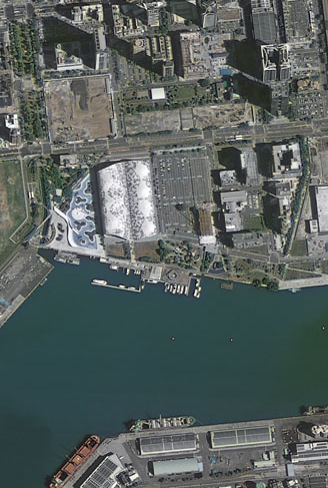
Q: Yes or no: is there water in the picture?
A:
Yes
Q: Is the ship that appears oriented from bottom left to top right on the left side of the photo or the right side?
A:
left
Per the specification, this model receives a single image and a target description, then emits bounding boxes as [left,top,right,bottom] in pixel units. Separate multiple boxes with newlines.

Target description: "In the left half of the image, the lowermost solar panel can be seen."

[83,459,122,488]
